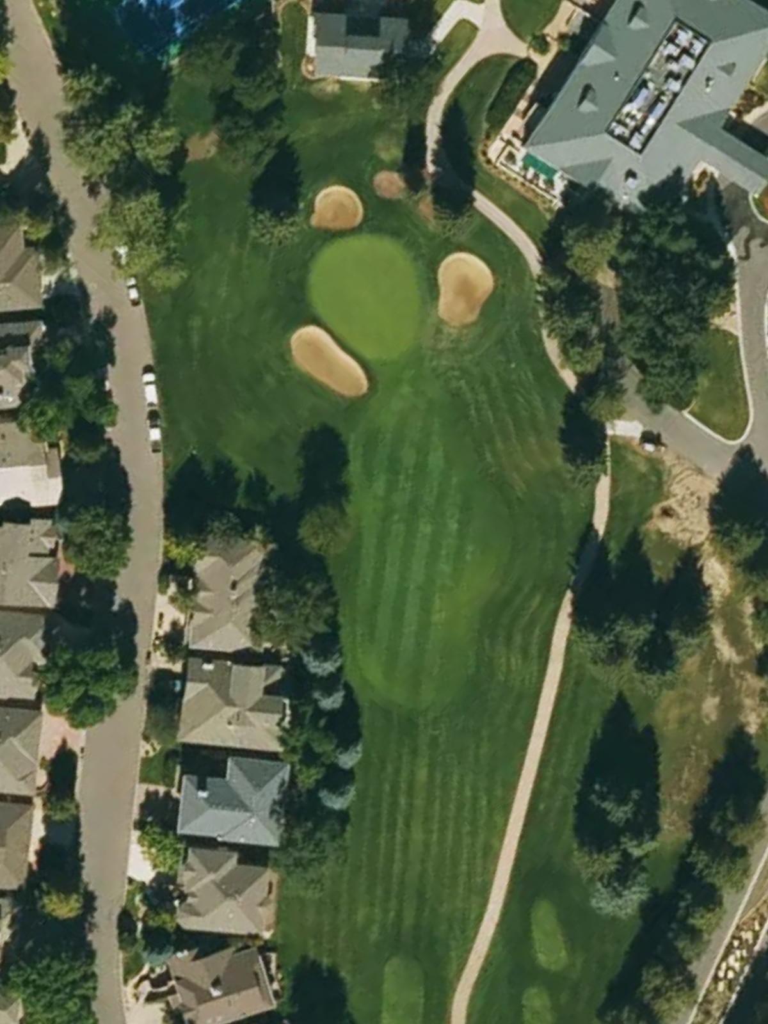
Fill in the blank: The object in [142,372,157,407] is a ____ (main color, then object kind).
white vehicle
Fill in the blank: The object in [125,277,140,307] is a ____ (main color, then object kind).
white car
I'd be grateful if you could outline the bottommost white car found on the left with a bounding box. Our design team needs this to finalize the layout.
[147,420,162,453]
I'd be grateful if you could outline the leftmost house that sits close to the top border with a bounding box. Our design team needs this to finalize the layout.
[313,12,410,77]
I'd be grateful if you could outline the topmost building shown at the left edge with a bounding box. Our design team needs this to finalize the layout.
[0,225,41,310]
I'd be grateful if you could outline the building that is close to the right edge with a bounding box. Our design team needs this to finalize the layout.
[524,0,768,229]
